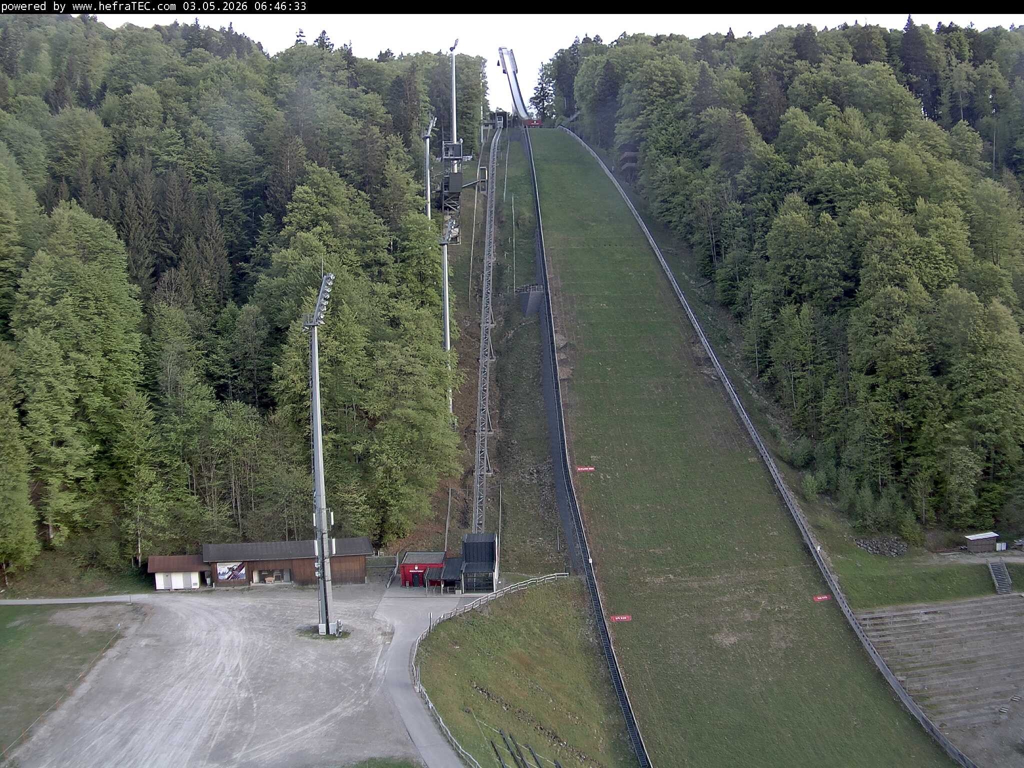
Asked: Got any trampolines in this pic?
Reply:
No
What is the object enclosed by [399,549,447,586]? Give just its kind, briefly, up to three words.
building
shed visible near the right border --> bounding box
[955,527,1002,552]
